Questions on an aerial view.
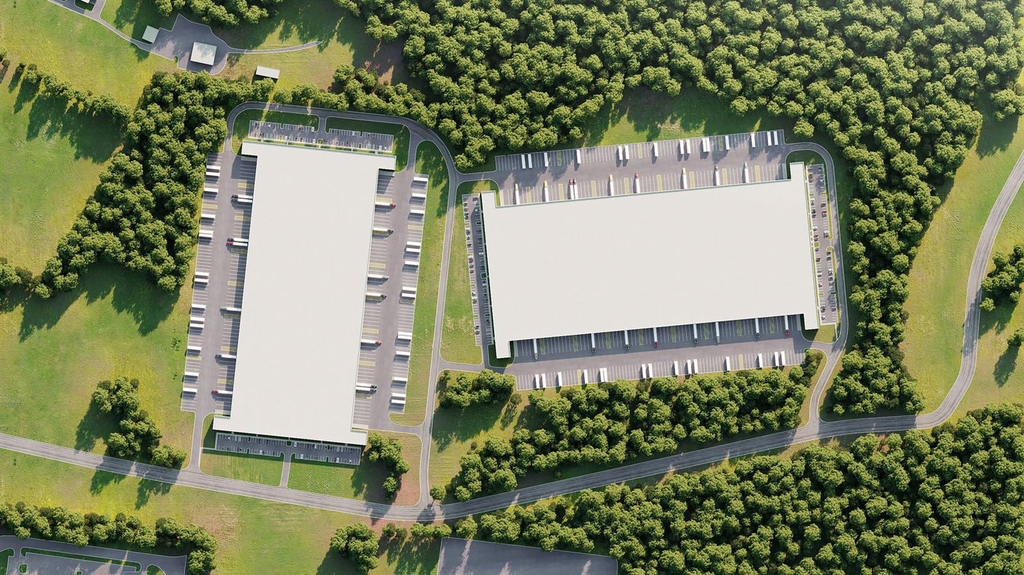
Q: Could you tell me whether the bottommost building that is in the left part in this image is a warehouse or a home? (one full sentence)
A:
The bottommost building that is in the left part is a warehouse.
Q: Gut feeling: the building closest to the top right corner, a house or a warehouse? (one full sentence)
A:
In the photo, the building closest to the top right corner shows up as a warehouse.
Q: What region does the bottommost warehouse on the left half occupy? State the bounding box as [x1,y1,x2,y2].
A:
[213,140,397,445]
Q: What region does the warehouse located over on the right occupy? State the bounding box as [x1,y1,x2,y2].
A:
[481,162,819,358]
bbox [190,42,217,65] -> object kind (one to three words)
barn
